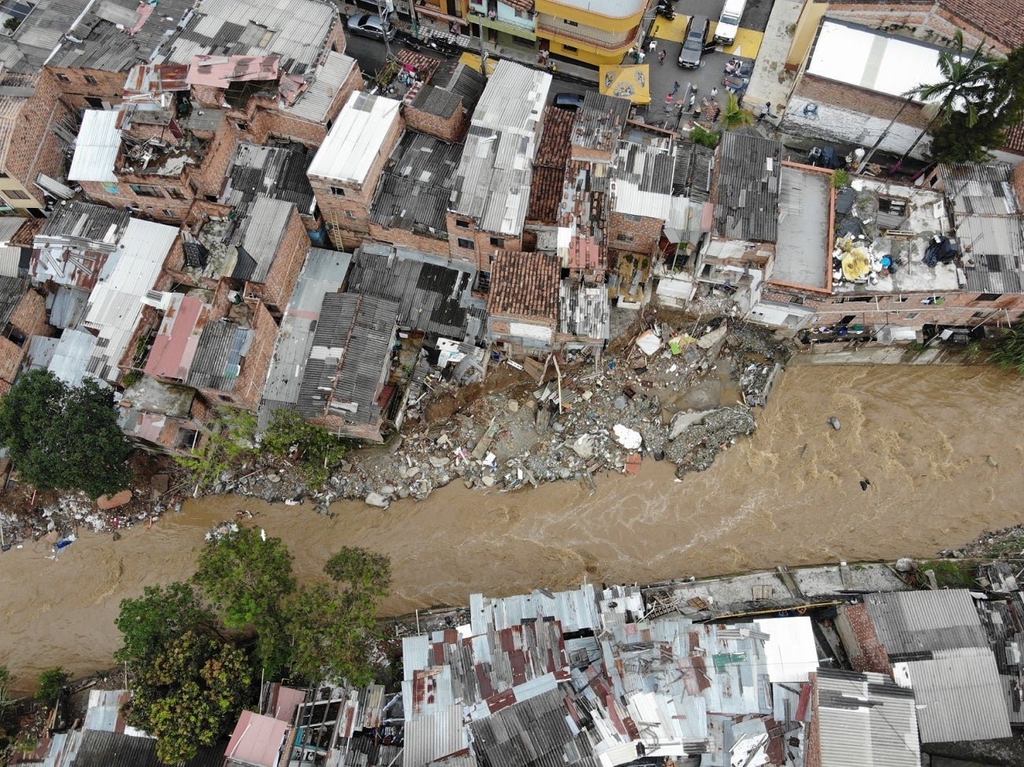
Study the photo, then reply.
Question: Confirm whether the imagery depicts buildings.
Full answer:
Yes, I can see a building in this picture.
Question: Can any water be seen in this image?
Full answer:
Yes, there's water in this view.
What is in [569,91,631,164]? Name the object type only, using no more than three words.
house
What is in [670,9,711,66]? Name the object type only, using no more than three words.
car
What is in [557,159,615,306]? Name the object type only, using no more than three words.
house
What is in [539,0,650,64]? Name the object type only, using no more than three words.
building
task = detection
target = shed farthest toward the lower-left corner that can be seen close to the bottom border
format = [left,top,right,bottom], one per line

[8,732,84,767]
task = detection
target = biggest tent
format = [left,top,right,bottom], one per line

[596,64,650,121]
